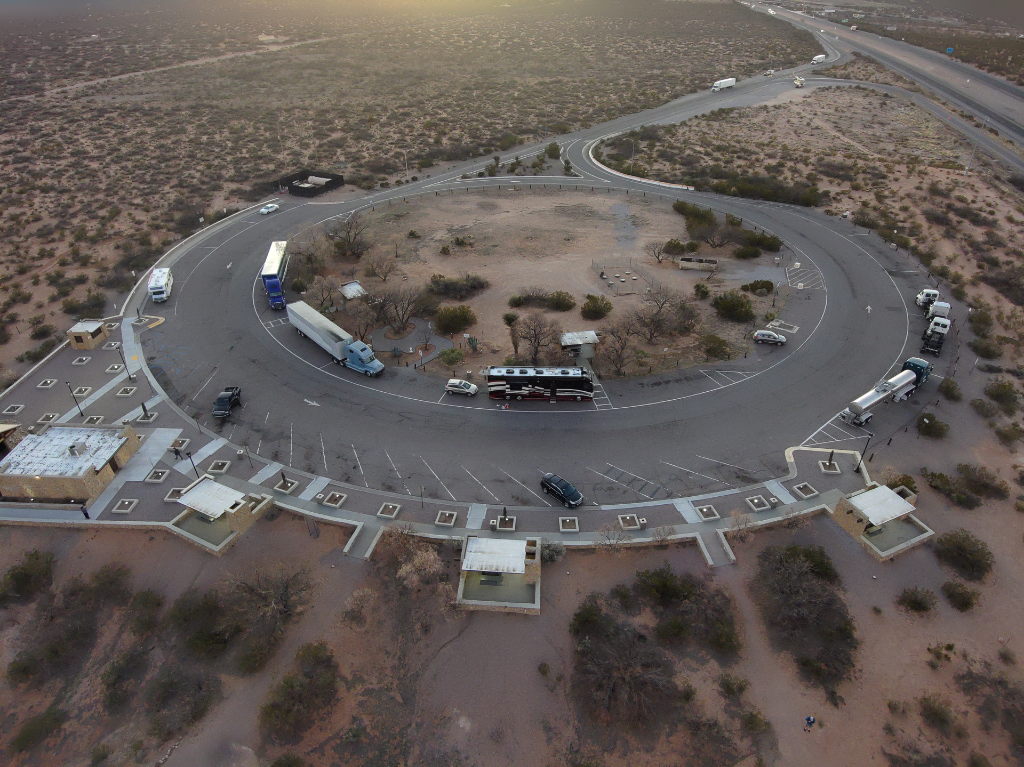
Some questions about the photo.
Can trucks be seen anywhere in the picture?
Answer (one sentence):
Yes, looking at the shot, I can spot a truck.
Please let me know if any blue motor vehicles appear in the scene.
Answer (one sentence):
Yes, the image includes a blue motor vehicle.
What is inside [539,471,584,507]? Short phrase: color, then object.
black car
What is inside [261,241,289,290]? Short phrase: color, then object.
white trailer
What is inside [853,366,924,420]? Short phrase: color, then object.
gray trailer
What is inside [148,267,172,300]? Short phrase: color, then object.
white camper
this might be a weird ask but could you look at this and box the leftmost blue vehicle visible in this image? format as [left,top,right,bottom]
[264,276,285,307]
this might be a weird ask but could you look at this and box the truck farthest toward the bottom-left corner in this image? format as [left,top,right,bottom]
[209,386,245,417]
